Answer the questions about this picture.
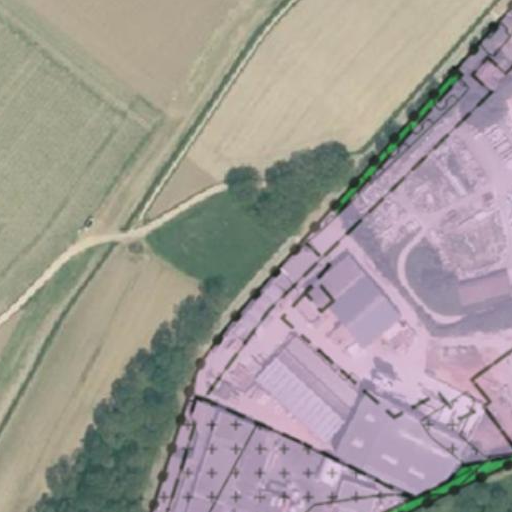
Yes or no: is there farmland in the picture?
Yes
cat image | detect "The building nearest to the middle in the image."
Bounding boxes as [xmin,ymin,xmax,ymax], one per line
[321,252,366,302]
